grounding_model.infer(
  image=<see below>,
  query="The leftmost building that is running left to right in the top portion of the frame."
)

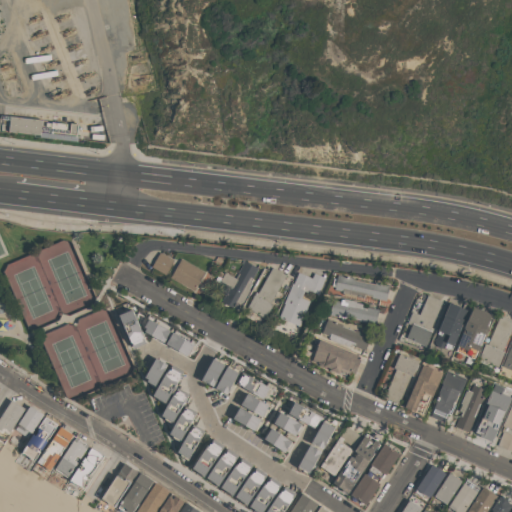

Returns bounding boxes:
[10,116,44,136]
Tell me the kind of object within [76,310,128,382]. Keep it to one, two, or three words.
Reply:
tennis court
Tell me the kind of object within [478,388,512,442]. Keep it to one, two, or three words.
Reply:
house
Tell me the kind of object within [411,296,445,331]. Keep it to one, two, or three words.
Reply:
house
